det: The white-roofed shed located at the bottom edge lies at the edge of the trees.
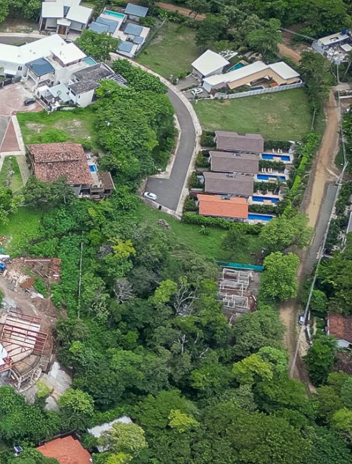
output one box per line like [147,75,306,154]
[86,424,109,459]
